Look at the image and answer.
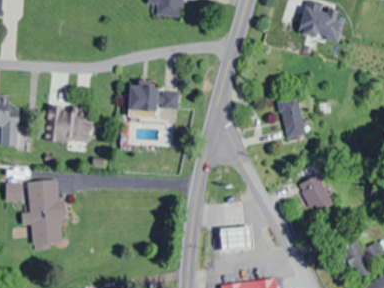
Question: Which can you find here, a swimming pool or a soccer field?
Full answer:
Looking from above, you can make out a swimming pool.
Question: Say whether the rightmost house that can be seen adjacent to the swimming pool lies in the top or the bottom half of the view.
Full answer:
The rightmost house that can be seen adjacent to the swimming pool is in the top half of the image.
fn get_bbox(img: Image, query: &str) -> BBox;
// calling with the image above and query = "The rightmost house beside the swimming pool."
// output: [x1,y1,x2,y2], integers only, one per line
[129,82,180,110]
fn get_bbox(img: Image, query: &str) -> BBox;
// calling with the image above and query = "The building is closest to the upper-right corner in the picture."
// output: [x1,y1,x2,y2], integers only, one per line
[297,1,350,45]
